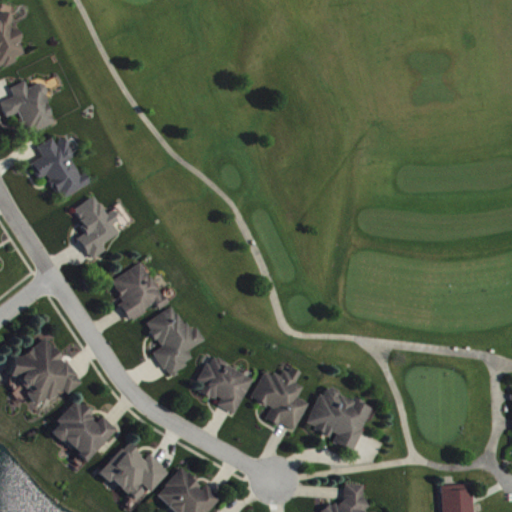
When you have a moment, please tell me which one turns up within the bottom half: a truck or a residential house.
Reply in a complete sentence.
Looking within the bottom half, you will find a residential house.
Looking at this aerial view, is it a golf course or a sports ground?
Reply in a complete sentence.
This image shows a golf course.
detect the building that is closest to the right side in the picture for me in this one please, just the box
[440,483,472,512]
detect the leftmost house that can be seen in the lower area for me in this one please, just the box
[10,336,77,403]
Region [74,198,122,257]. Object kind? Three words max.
house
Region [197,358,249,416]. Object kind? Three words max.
house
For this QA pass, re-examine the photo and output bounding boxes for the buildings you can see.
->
[114,264,169,320]
[146,307,204,375]
[308,388,374,452]
[102,447,168,508]
[0,80,56,129]
[440,483,472,512]
[74,198,122,257]
[252,364,308,434]
[197,358,249,416]
[158,470,215,512]
[32,136,90,196]
[52,403,116,459]
[10,336,77,403]
[318,482,370,512]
